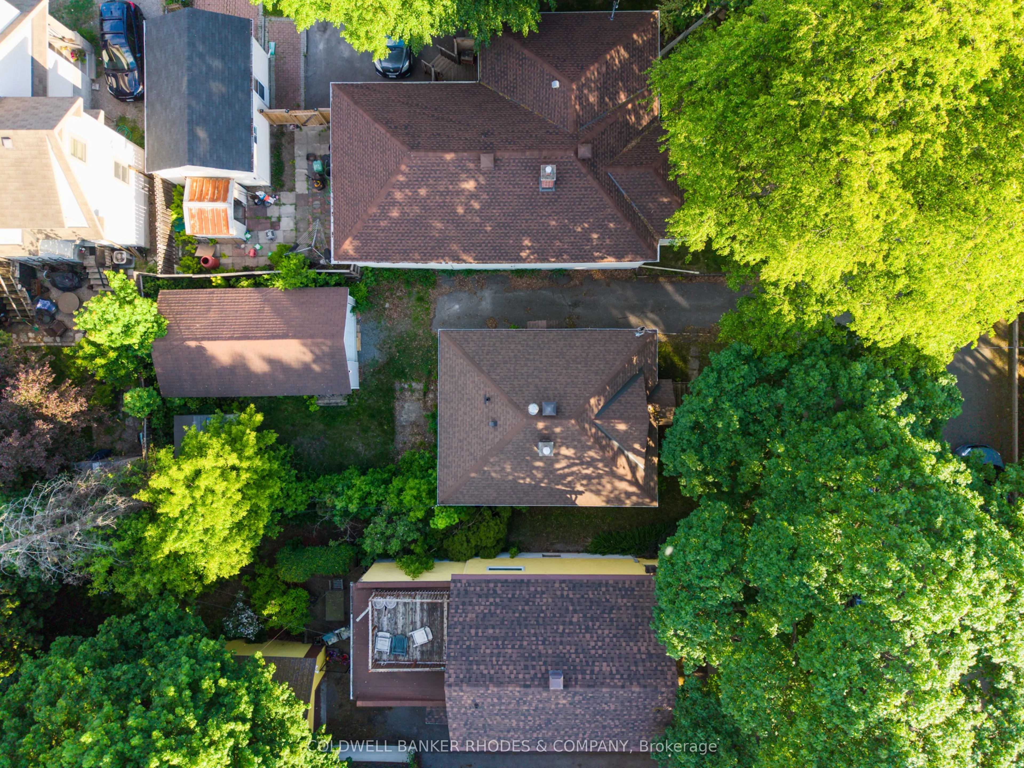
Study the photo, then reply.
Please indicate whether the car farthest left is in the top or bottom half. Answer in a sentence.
The car farthest left sits in the top half of the picture.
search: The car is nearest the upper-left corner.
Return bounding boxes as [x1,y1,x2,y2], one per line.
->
[88,4,141,106]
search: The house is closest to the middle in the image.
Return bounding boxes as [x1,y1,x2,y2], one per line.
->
[436,327,677,508]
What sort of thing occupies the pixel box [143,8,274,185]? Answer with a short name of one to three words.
building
